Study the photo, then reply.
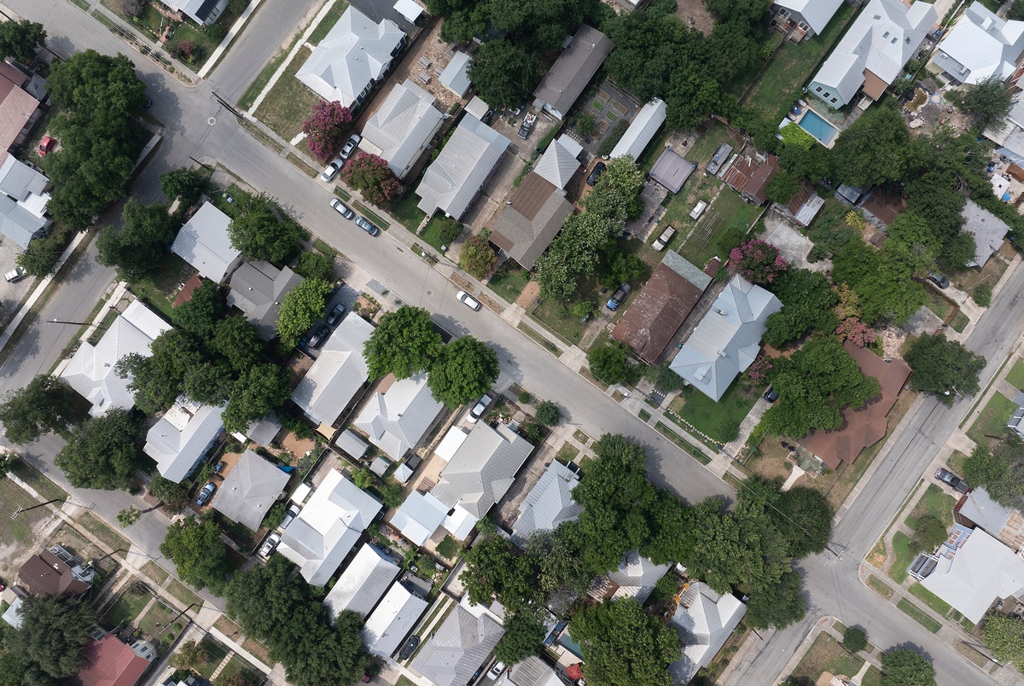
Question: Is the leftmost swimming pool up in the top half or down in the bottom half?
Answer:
bottom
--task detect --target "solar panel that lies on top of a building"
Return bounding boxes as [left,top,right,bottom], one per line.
[195,0,218,20]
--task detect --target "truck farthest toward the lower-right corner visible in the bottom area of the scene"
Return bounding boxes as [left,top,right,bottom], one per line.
[935,467,967,493]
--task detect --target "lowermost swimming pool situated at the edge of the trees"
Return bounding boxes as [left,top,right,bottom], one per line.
[556,633,589,668]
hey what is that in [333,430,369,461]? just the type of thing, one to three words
shed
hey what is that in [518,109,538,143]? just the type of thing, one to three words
vehicle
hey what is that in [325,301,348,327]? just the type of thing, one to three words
car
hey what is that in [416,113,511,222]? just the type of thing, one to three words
house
